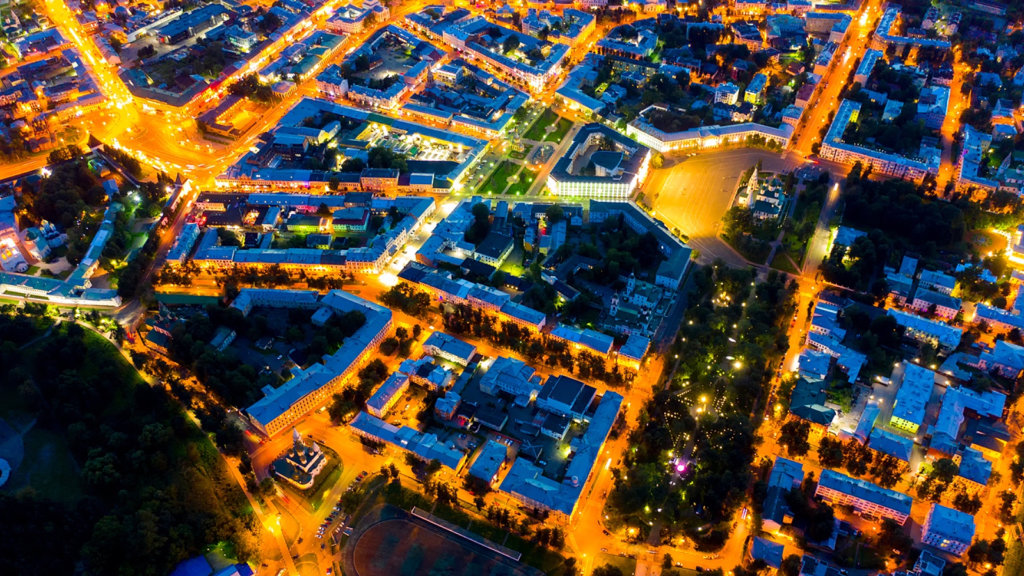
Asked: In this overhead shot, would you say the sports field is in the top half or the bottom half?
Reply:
bottom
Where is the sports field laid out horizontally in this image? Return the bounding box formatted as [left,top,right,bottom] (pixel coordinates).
[353,519,521,576]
